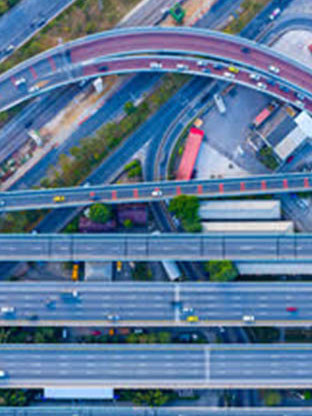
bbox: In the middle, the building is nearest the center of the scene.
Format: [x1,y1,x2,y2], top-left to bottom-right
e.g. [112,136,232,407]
[116,206,147,226]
